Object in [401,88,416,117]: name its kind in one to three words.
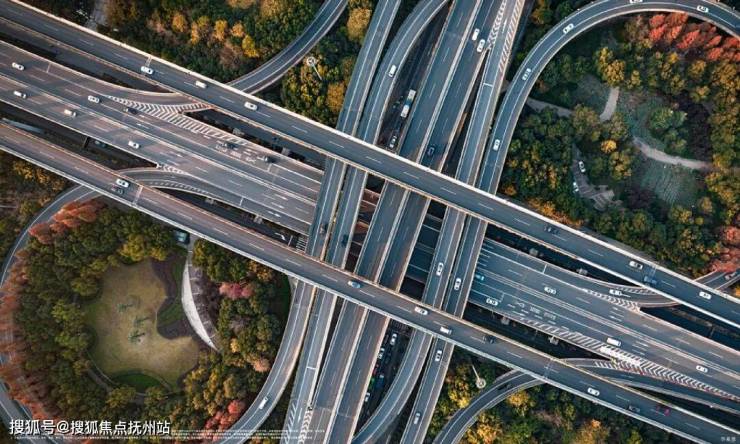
vehicle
